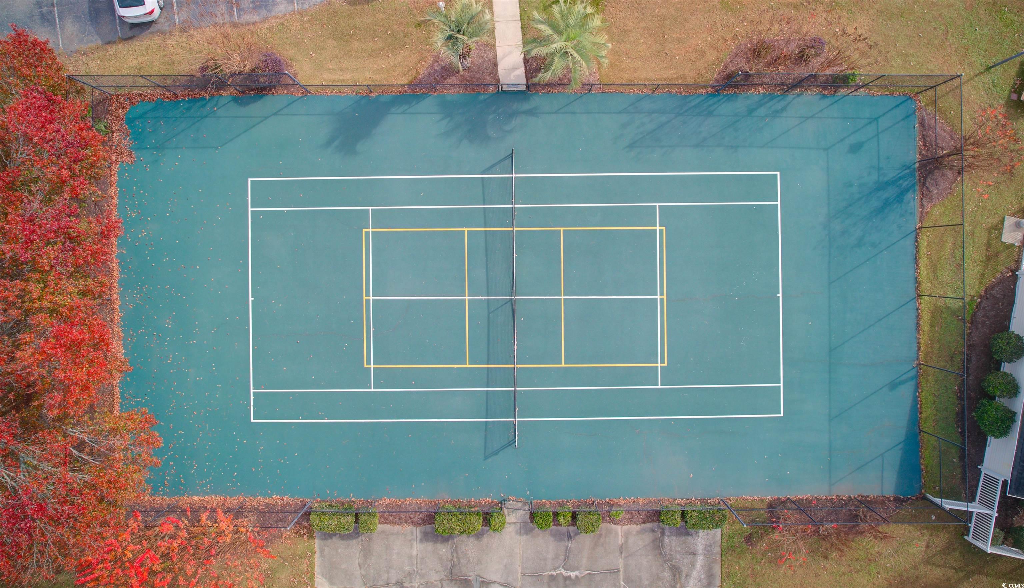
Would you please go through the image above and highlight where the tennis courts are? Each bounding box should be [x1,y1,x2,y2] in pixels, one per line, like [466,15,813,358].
[106,95,922,503]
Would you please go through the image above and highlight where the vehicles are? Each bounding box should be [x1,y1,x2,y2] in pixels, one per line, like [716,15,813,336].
[115,0,166,24]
